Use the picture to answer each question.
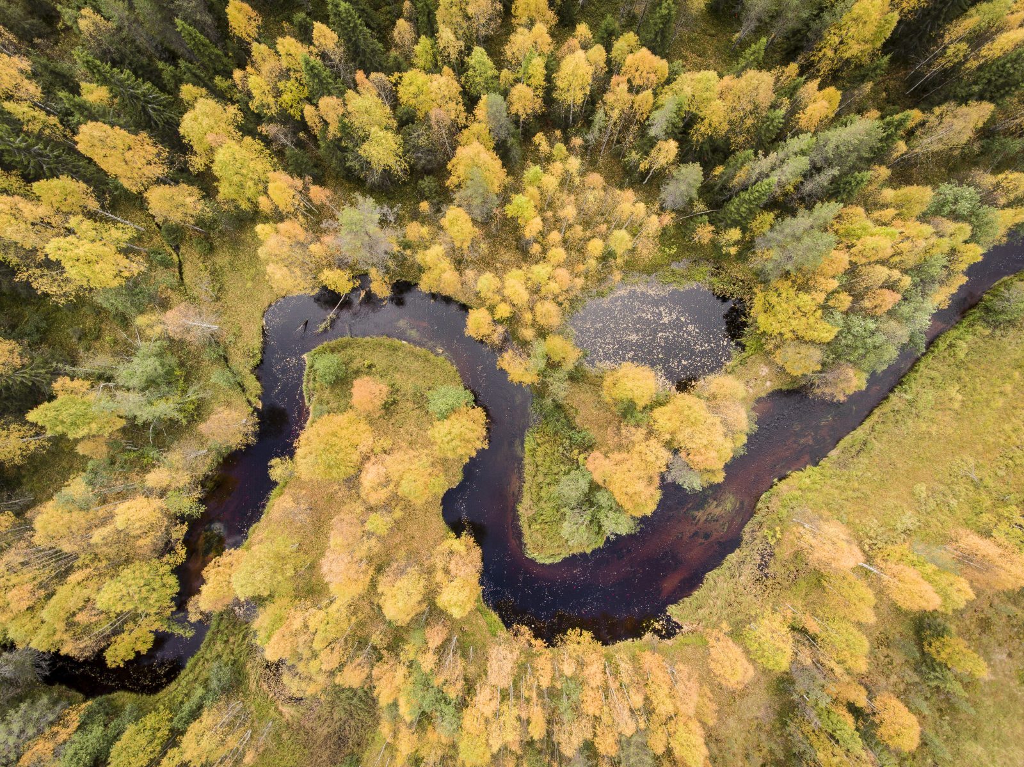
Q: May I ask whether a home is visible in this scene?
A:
No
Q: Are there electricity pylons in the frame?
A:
No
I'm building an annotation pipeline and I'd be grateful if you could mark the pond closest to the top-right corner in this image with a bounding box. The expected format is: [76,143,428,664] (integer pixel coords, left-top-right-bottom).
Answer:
[564,274,752,392]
